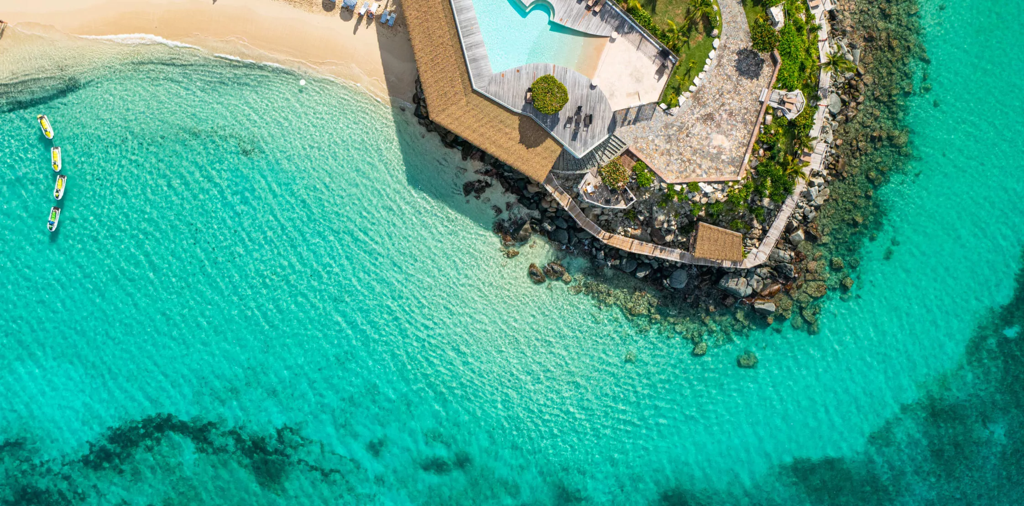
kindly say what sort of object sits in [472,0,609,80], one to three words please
swimming pool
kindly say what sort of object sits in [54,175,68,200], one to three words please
boat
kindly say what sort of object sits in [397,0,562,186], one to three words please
building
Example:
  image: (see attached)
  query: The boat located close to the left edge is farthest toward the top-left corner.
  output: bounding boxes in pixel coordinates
[39,113,53,138]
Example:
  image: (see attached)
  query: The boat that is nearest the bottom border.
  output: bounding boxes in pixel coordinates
[47,206,62,231]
